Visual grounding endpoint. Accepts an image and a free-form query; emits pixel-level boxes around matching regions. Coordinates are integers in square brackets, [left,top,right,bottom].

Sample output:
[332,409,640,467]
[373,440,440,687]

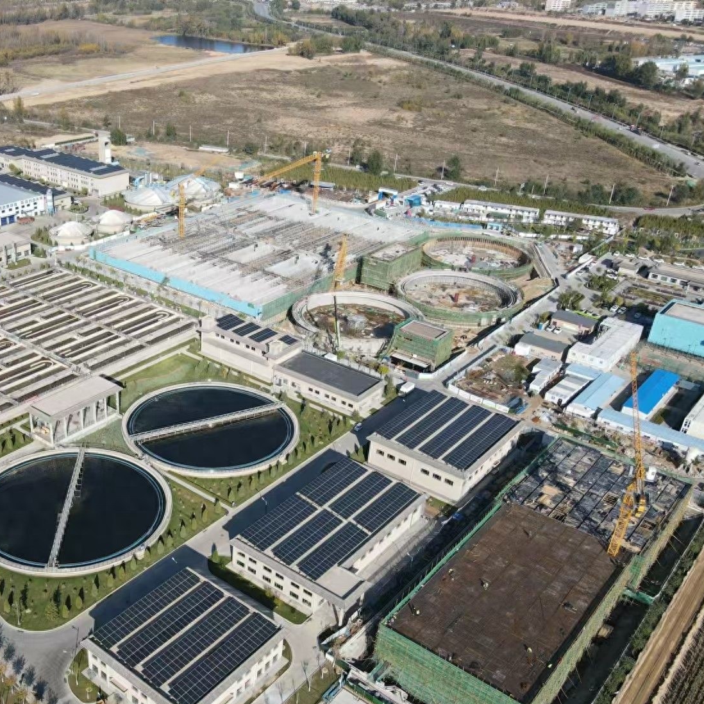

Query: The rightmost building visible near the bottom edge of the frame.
[372,438,690,704]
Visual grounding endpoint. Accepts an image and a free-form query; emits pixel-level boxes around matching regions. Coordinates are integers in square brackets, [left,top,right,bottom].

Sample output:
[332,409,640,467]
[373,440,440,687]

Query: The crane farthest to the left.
[170,153,221,240]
